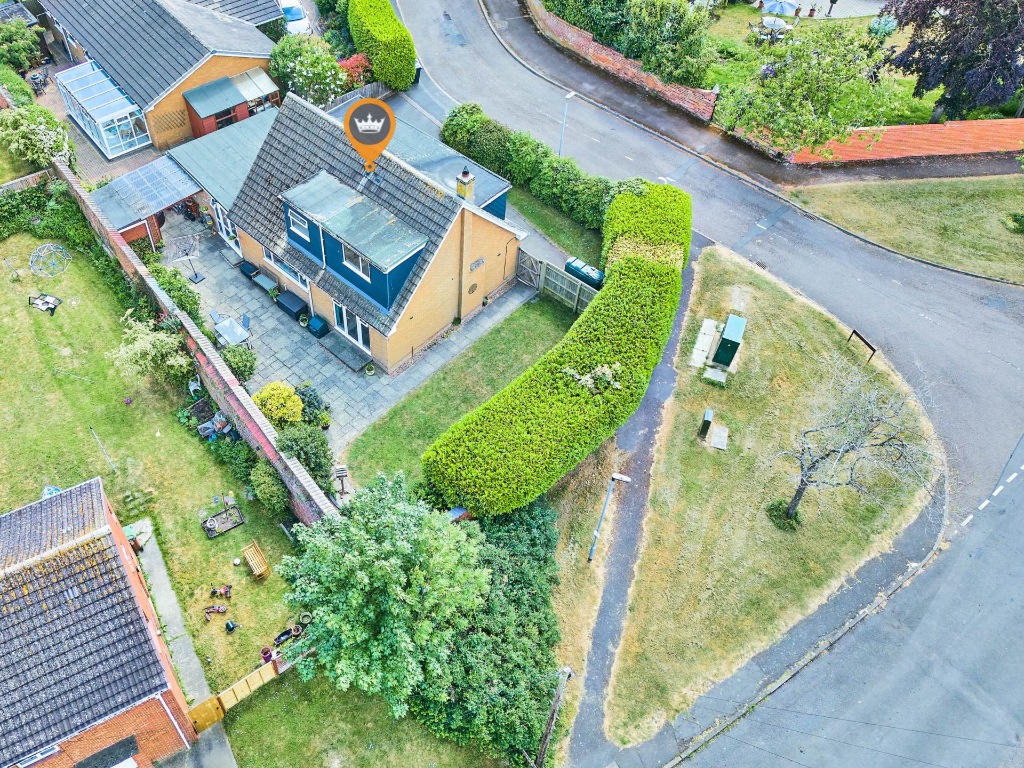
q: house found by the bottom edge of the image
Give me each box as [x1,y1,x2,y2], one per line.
[0,470,196,768]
